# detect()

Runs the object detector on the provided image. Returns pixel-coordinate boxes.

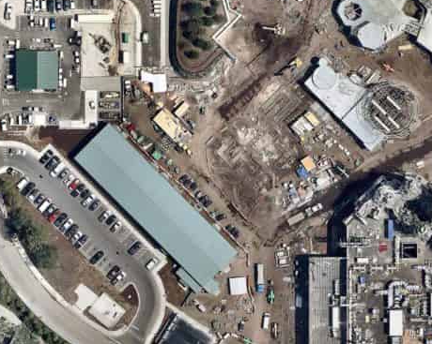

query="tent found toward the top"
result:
[141,70,167,92]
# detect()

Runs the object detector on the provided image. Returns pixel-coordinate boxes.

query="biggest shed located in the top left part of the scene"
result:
[15,49,58,91]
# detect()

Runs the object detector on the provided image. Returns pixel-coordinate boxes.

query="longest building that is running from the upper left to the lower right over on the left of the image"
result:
[73,126,235,293]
